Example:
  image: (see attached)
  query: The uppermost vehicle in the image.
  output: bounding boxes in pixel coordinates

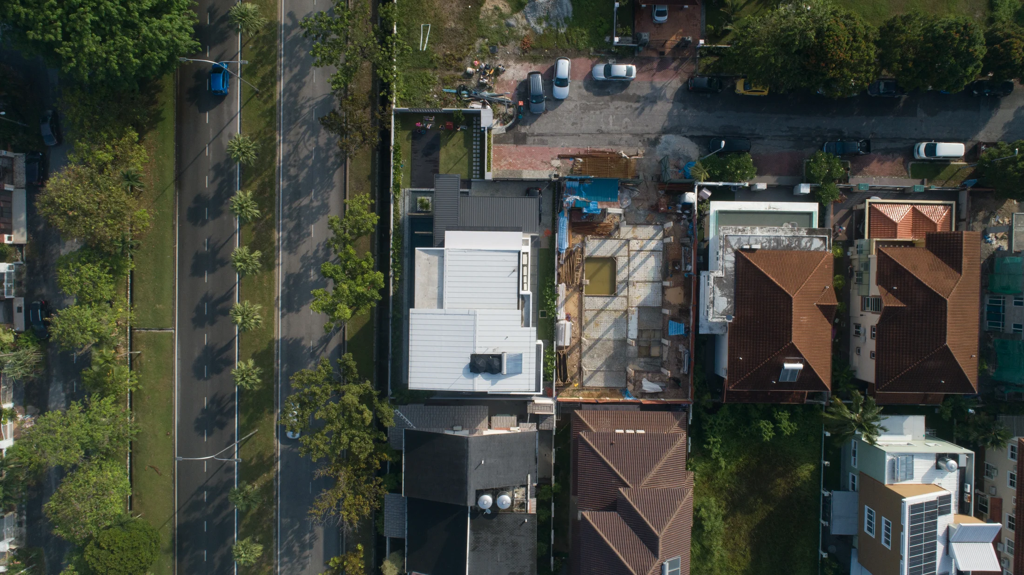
[650,6,671,30]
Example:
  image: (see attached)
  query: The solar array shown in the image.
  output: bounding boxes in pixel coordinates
[910,501,950,575]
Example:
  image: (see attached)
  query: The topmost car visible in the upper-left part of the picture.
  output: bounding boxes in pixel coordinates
[209,63,231,98]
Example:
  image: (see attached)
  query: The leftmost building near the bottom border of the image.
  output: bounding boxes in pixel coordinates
[384,399,554,575]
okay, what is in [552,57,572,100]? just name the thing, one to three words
car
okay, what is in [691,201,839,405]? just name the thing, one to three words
house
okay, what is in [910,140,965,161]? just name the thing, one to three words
vehicle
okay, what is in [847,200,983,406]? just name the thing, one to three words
house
